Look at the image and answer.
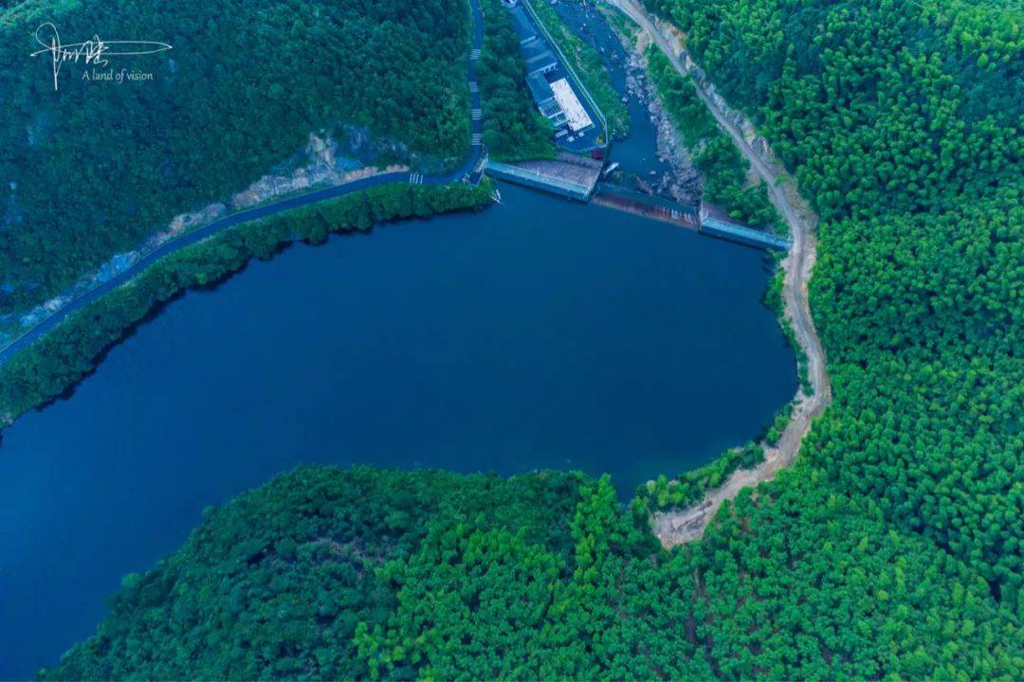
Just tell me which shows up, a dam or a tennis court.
dam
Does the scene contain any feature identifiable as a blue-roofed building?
Yes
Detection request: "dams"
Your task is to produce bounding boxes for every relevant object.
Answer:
[487,152,796,249]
